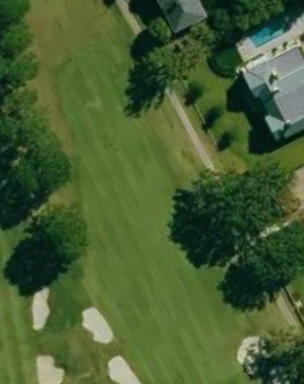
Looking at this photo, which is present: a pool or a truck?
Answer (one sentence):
Of the two, only a pool appears.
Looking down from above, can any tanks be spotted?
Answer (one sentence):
No, I find no tank anywhere in the image.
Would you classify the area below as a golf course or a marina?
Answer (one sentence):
The picture captures a golf course.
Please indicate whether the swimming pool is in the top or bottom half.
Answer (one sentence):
It is in the top half that the swimming pool appears.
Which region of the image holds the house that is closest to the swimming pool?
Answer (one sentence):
The house that is closest to the swimming pool is located in the top right region of the scene.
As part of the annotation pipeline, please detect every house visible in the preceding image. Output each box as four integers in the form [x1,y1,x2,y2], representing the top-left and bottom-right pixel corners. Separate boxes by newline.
[240,37,304,140]
[159,0,205,32]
